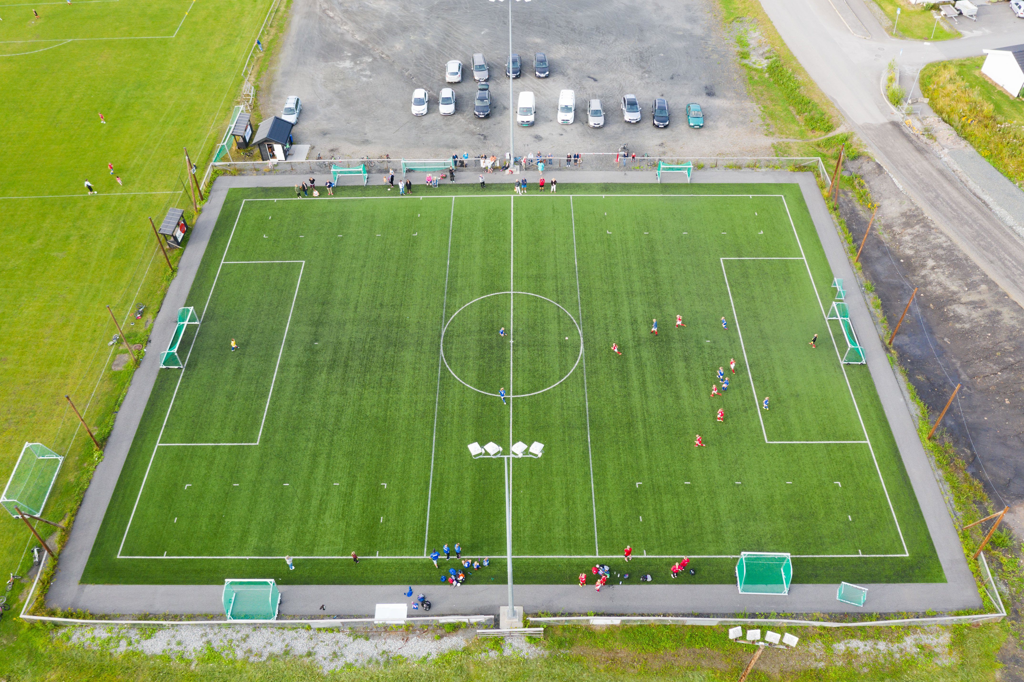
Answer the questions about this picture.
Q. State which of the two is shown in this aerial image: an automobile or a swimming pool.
automobile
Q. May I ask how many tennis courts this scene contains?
zero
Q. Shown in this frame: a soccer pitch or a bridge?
soccer pitch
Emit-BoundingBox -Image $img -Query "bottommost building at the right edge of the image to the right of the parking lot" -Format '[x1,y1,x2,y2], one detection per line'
[982,46,1024,97]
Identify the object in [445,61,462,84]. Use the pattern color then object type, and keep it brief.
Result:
white car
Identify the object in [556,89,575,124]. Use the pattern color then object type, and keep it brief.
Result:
white vehicle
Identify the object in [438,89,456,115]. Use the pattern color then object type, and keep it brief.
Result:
white car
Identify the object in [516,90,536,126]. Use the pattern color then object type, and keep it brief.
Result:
white vehicle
